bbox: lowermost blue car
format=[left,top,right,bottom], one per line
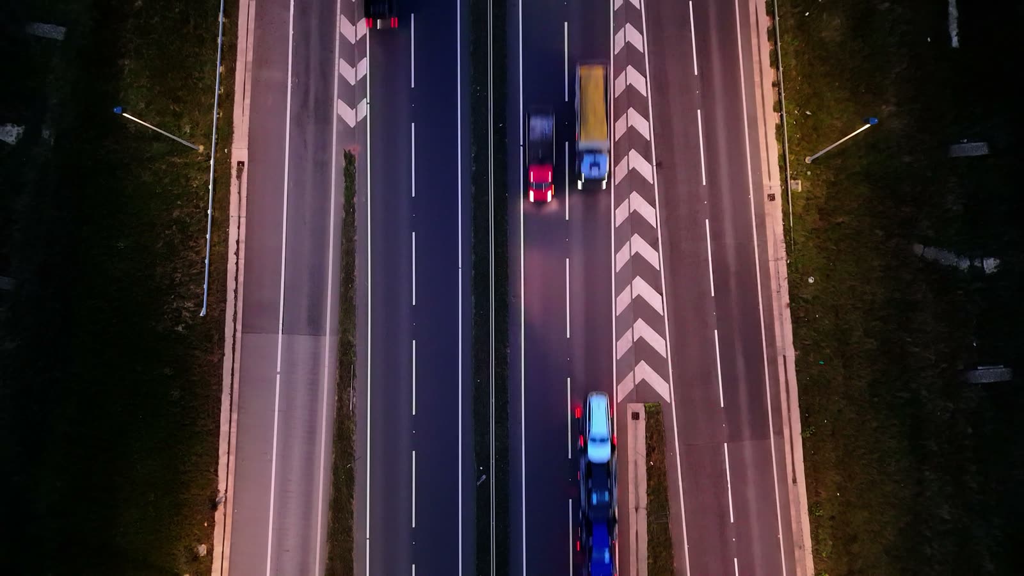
[584,522,613,576]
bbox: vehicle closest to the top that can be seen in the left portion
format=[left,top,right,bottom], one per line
[364,0,400,29]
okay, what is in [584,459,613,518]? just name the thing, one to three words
car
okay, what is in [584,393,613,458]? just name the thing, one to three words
car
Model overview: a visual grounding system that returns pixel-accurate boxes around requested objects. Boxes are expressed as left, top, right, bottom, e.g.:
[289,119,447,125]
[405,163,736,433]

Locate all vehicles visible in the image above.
[584,459,613,518]
[576,390,616,576]
[584,393,613,458]
[574,65,611,189]
[584,522,613,576]
[526,115,555,202]
[364,0,400,29]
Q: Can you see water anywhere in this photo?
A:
No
